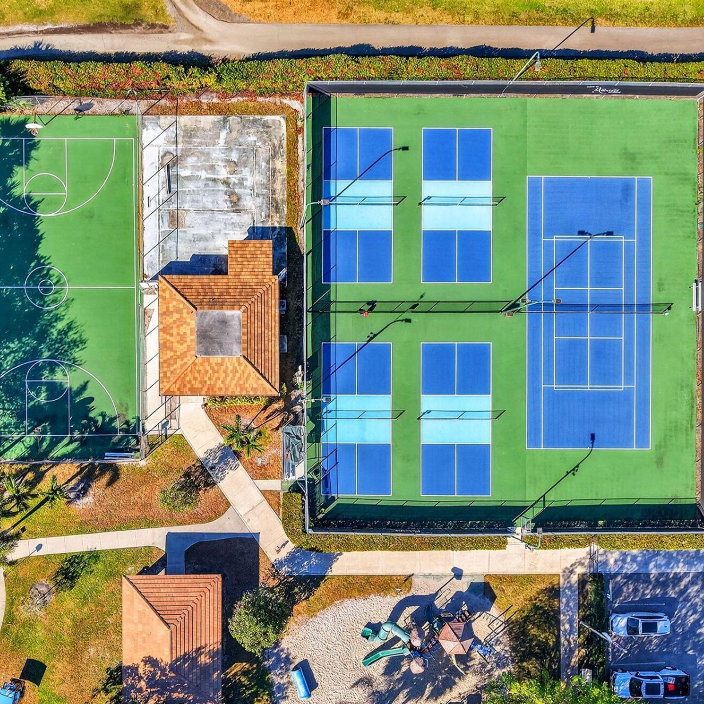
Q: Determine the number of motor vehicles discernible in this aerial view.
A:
2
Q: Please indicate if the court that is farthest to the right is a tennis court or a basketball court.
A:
tennis court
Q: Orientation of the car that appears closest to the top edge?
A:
from left to right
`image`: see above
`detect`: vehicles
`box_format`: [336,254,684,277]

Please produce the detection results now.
[611,666,689,700]
[608,612,668,640]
